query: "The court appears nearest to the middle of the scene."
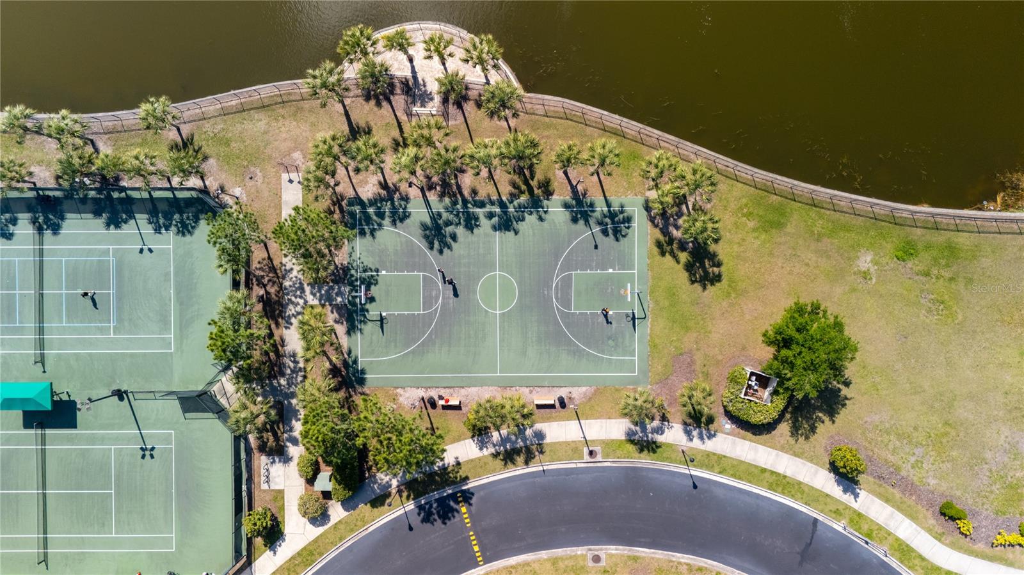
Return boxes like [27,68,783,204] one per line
[346,197,649,388]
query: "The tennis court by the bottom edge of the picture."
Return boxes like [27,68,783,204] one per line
[0,392,245,575]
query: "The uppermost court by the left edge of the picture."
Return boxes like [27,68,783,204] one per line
[0,193,243,392]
